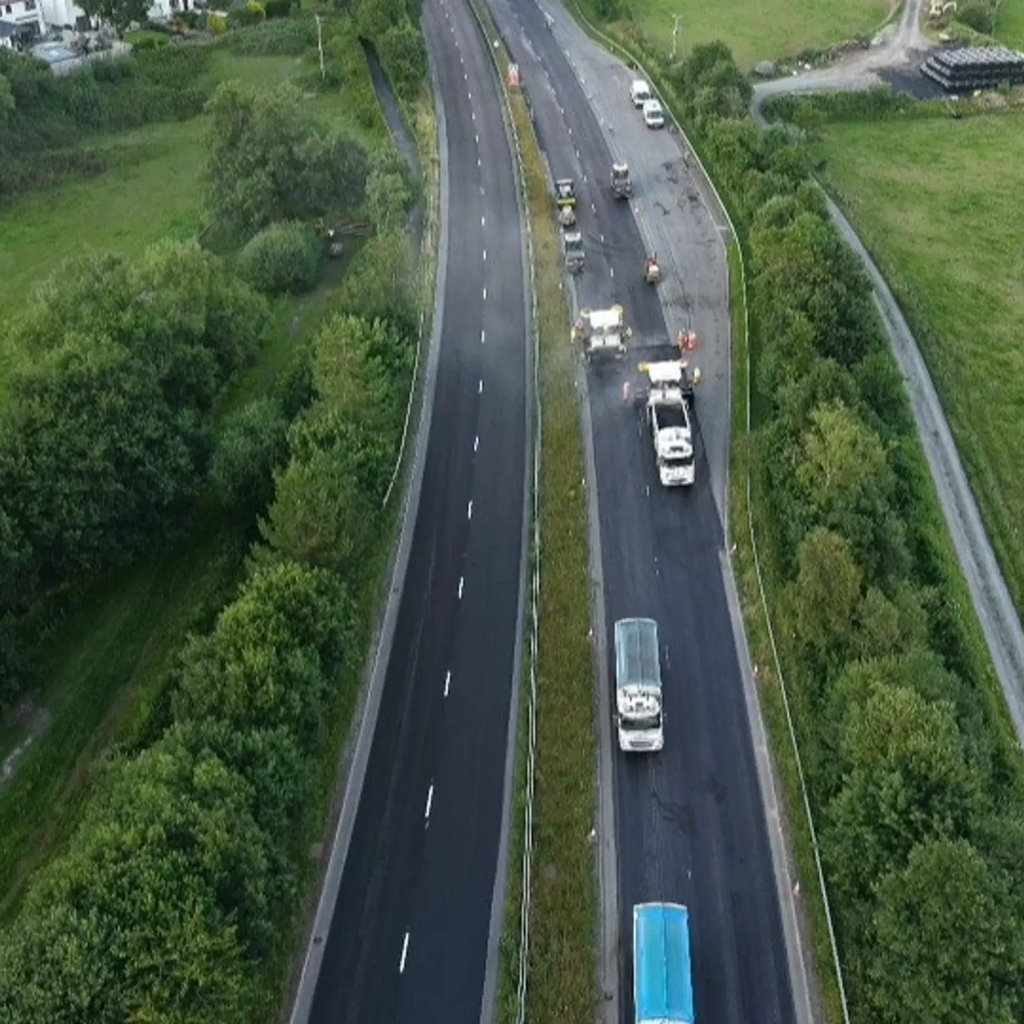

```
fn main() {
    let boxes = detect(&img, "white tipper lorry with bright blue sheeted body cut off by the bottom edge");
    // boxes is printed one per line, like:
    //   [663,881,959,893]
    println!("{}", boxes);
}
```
[632,905,695,1024]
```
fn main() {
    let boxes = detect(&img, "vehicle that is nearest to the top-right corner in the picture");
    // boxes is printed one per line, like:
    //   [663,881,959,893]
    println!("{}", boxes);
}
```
[925,0,959,22]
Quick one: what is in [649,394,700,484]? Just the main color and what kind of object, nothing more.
white truck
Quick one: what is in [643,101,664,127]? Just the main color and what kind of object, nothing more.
white vehicle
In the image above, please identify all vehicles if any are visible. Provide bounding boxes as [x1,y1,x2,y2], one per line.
[641,252,663,282]
[643,101,664,127]
[632,905,695,1024]
[649,394,700,484]
[925,0,959,22]
[630,83,650,108]
[615,610,671,750]
[562,233,584,274]
[558,198,576,228]
[556,179,573,208]
[609,165,629,198]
